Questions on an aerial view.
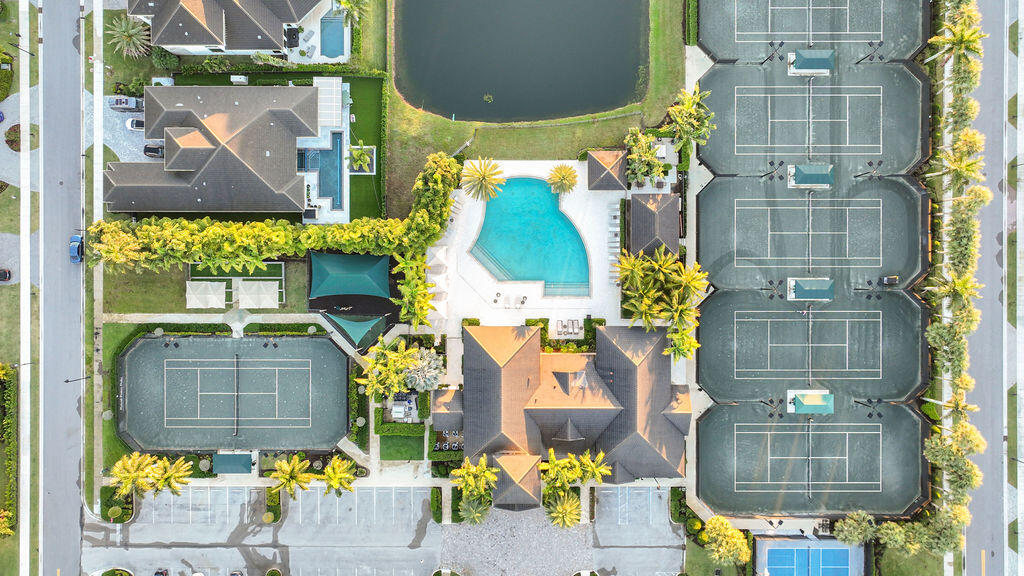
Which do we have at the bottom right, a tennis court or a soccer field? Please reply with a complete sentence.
There is a tennis court at the bottom right.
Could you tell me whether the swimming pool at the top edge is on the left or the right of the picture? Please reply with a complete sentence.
It is on the left.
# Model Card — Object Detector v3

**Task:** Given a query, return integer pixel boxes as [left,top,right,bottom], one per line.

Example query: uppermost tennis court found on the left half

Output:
[126,337,345,449]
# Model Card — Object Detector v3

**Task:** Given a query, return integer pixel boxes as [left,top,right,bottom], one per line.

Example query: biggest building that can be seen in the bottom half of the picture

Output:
[431,326,695,512]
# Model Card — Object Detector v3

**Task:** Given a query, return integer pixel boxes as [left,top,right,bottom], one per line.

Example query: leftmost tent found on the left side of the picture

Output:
[186,282,230,308]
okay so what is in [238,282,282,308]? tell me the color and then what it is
white tent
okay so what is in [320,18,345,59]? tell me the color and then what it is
blue swimming pool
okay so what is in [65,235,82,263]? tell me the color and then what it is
blue car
